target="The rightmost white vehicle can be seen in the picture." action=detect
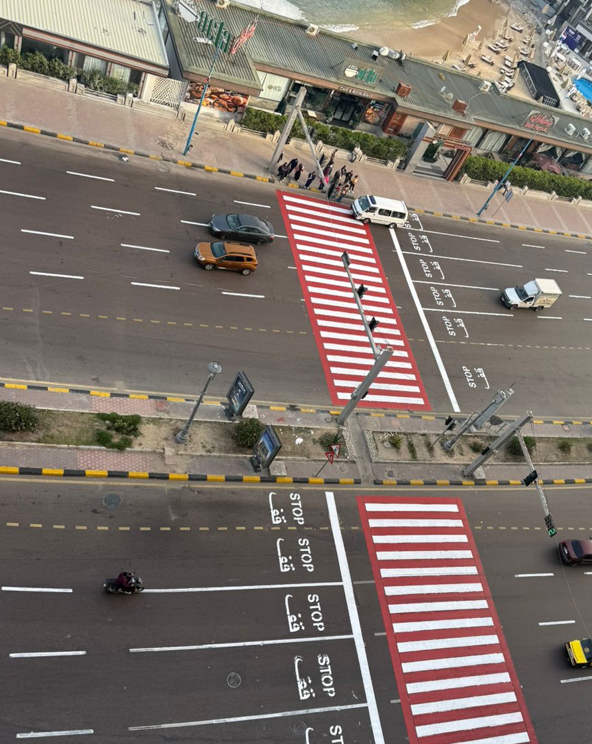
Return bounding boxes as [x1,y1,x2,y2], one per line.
[499,276,563,309]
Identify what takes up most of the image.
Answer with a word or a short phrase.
paved ground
